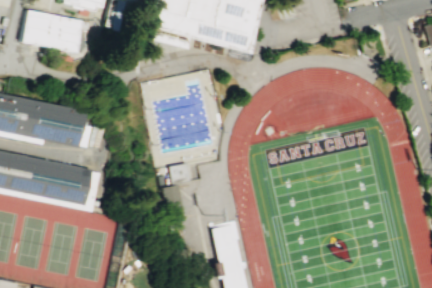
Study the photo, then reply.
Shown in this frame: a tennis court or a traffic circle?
tennis court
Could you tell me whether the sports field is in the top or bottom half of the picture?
bottom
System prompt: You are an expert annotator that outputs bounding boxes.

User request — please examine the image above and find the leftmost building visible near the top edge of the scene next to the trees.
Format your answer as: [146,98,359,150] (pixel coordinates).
[20,10,84,53]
